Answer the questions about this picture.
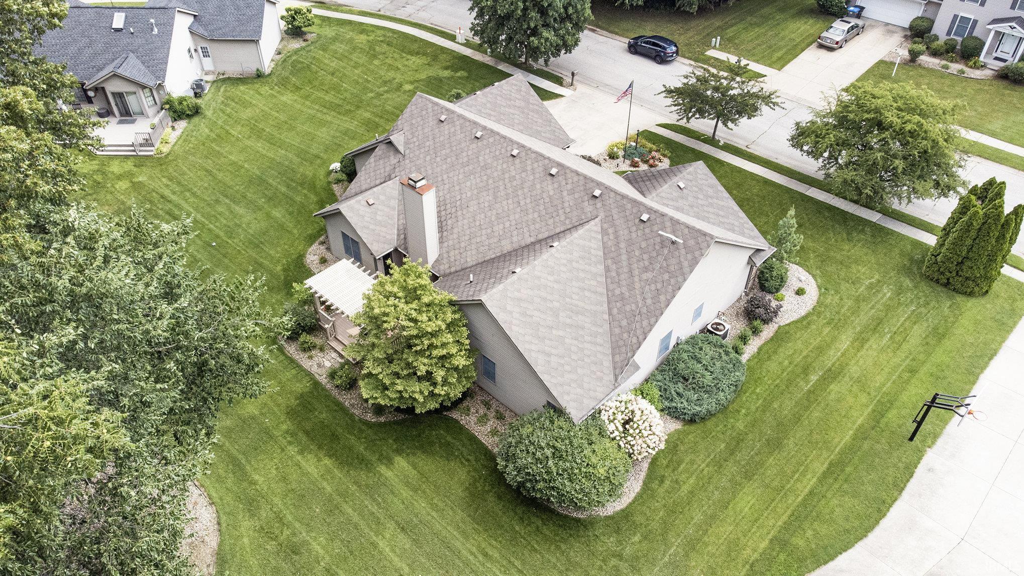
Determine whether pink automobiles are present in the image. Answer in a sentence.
No, no pink automobile can be seen from above.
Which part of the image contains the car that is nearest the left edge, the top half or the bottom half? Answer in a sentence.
Seen from above, the car that is nearest the left edge lies in the top half of the view.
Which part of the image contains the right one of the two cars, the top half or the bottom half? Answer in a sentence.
The right one of the two cars is in the top half of the image.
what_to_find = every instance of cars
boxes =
[817,18,865,47]
[626,32,682,65]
